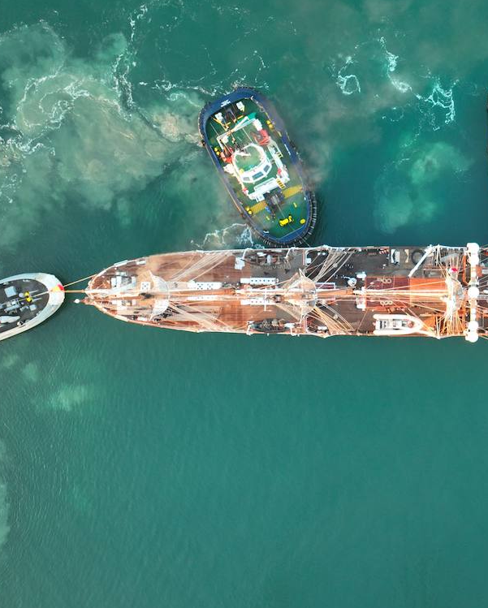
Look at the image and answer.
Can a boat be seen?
Yes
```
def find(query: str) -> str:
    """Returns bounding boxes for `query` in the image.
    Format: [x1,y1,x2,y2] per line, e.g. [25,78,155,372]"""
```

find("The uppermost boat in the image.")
[198,89,317,247]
